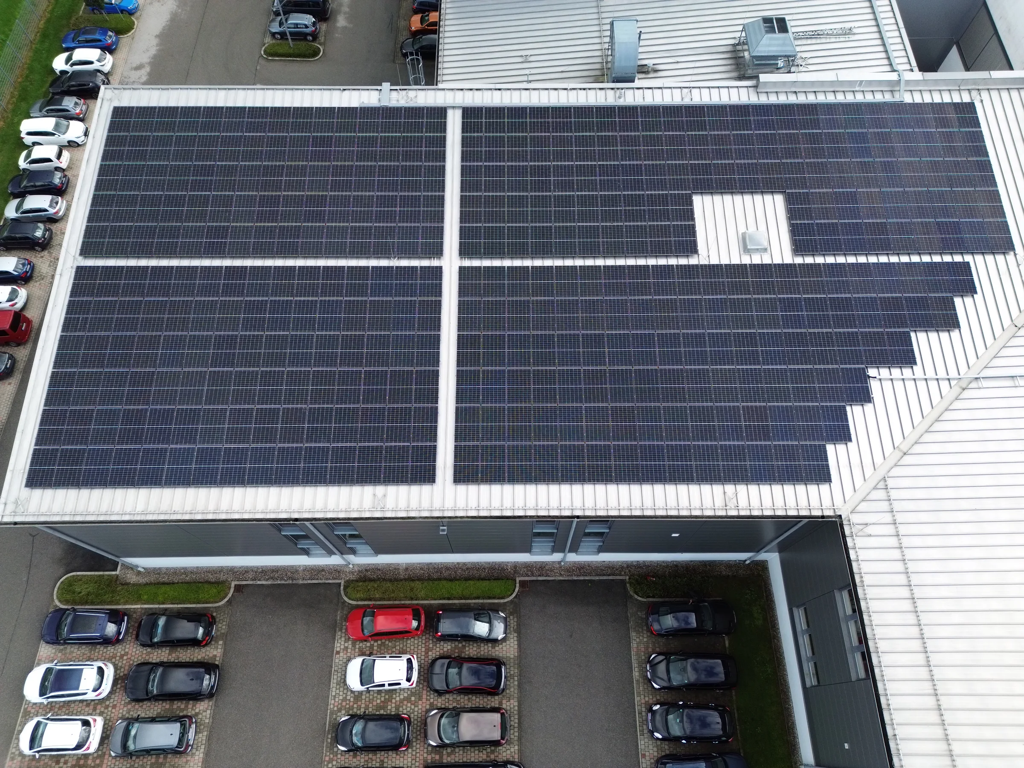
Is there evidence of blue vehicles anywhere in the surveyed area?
Yes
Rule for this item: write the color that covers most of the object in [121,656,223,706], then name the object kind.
black car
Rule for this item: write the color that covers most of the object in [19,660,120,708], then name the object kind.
white car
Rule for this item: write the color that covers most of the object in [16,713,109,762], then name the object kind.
white car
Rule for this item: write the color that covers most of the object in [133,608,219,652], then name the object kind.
black car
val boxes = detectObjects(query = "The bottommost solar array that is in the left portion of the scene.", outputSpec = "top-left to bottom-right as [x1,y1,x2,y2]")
[26,264,443,487]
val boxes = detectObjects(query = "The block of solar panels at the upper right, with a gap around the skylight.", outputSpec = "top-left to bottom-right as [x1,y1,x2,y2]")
[457,104,1015,255]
